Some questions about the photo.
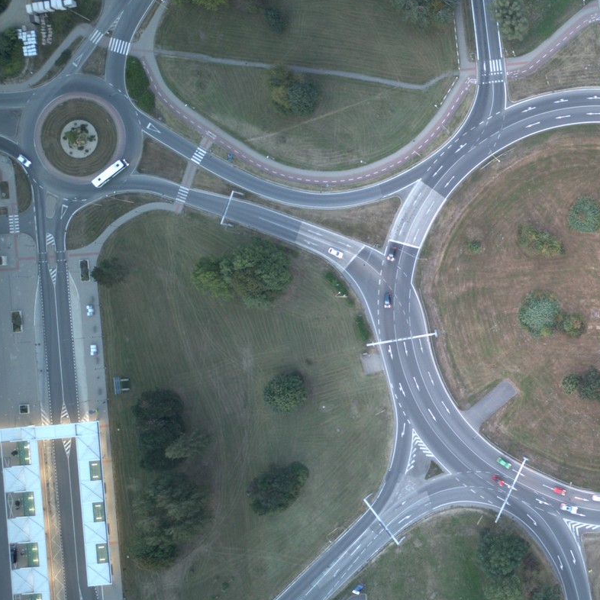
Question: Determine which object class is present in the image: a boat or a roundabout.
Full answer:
This aerial view contains a roundabout.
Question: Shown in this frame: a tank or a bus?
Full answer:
The one in the frame is a bus.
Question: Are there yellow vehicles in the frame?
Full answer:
No, this view has no yellow vehicle in it.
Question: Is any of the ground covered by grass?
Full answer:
Yes, there's grass in this view.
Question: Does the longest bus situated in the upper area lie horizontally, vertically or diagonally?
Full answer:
Seen from above, the longest bus situated in the upper area lies diagonally.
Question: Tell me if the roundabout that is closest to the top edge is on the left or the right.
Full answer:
The roundabout that is closest to the top edge is on the left side of the image.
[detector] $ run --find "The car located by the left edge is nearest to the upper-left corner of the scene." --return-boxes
[16,154,33,167]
